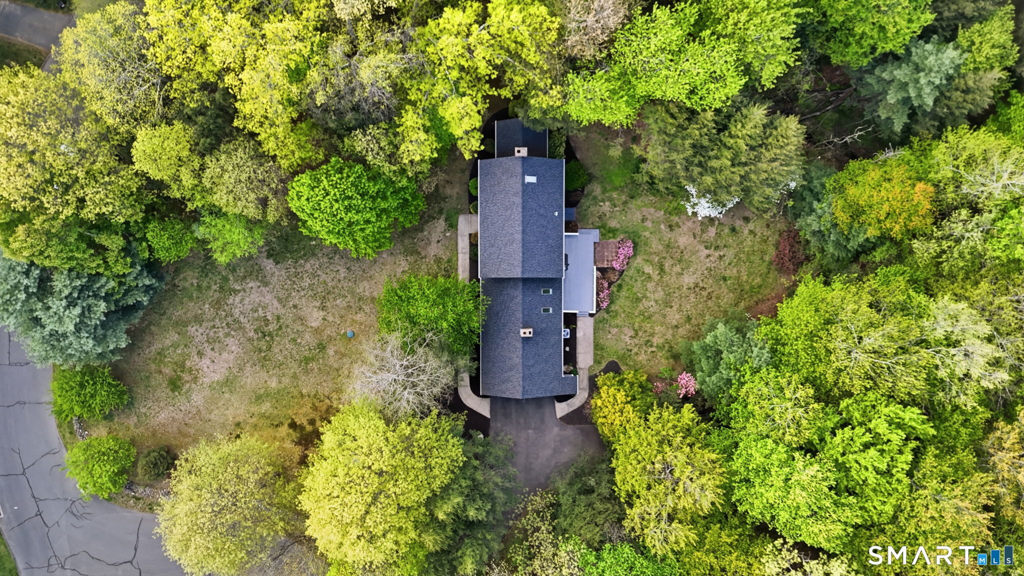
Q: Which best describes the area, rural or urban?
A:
rural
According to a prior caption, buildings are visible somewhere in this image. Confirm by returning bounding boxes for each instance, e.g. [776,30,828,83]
[477,118,579,399]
